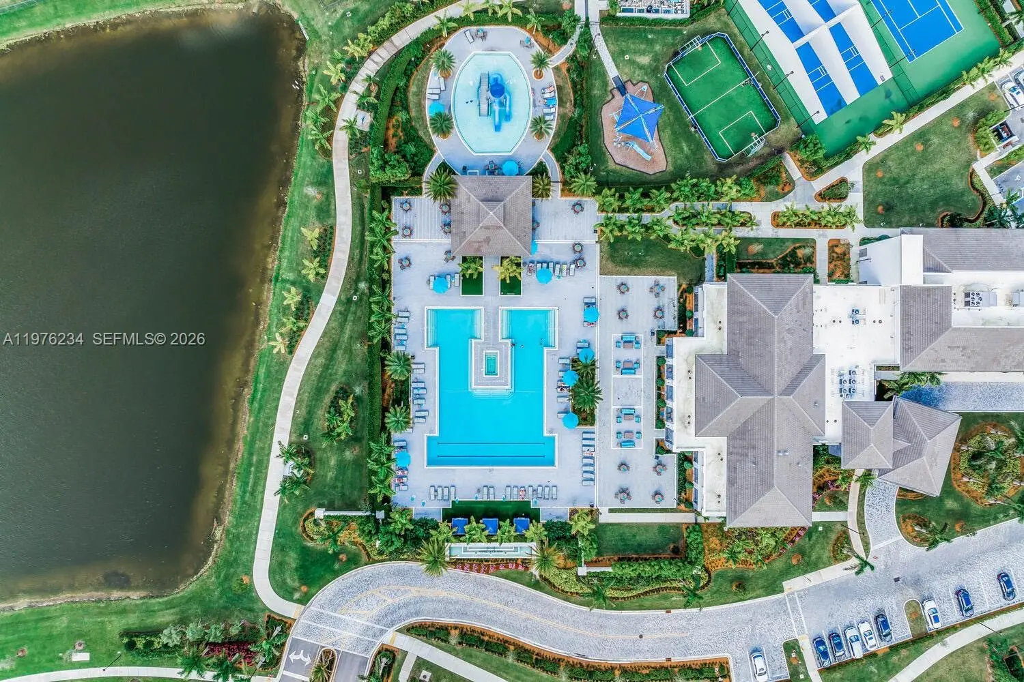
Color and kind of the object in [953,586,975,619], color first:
blue car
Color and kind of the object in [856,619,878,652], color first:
white car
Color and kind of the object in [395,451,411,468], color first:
blue umbrella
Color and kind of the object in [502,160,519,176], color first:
blue umbrella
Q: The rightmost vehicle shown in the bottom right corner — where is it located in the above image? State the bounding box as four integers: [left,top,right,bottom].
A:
[995,570,1017,603]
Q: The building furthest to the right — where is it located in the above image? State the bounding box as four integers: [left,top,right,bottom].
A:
[863,228,1024,374]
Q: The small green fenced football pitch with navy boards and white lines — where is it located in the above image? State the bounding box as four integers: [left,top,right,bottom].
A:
[664,27,785,161]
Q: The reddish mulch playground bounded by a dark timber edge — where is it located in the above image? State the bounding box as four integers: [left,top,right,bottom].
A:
[600,75,667,175]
